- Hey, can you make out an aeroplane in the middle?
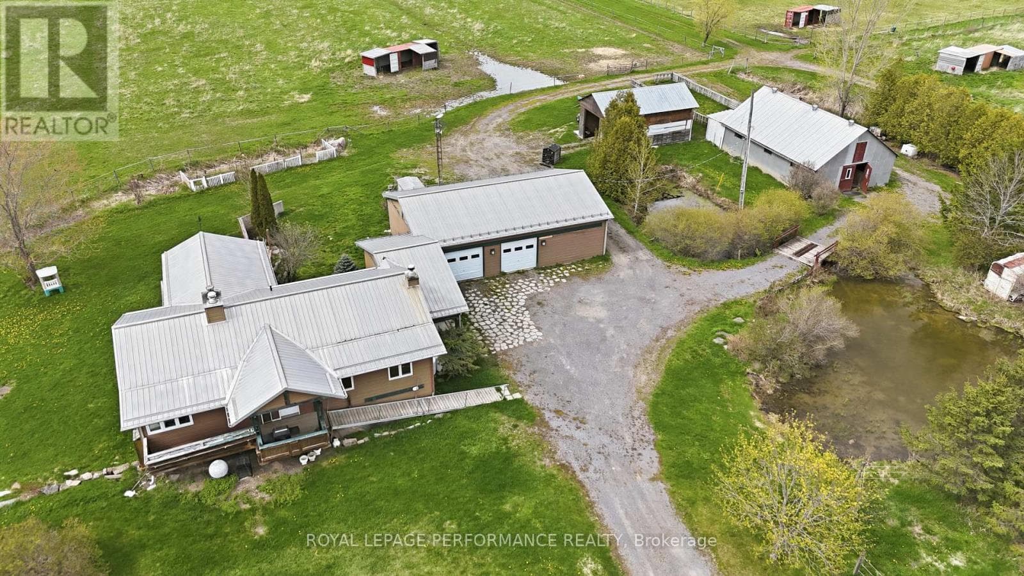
No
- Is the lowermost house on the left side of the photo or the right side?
left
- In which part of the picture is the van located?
right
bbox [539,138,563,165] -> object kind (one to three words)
shed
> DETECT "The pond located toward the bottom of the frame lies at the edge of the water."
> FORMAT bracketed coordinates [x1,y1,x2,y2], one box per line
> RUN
[755,272,1024,465]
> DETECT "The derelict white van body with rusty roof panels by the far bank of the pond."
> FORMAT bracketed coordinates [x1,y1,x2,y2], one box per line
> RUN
[983,252,1024,298]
